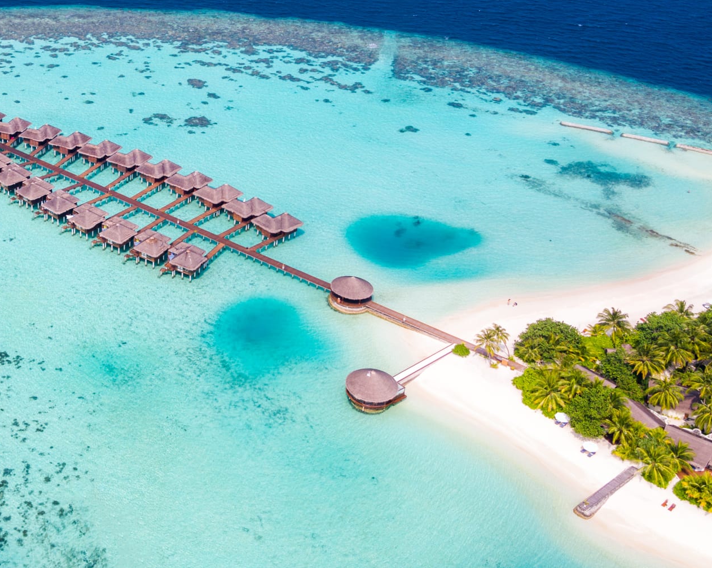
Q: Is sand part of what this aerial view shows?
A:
Yes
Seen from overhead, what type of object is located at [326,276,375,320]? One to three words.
building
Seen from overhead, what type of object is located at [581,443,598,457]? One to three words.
umbrella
